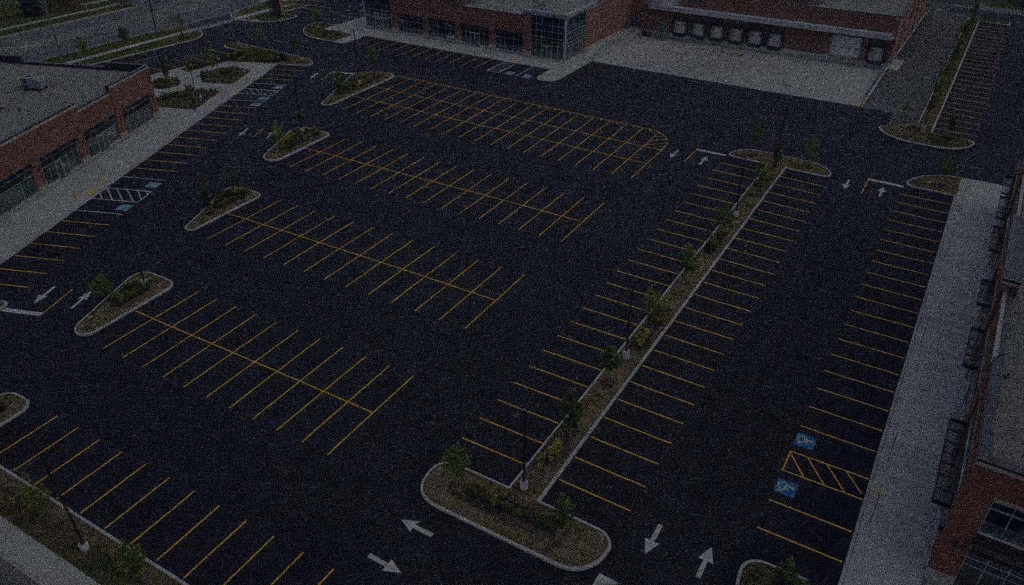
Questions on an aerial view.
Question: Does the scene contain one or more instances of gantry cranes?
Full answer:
No, no gantry crane can be seen from above.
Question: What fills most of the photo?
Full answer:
The bulk of the photo consists of paved ground.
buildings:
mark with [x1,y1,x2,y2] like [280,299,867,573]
[923,133,1024,585]
[0,57,157,211]
[361,0,929,71]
